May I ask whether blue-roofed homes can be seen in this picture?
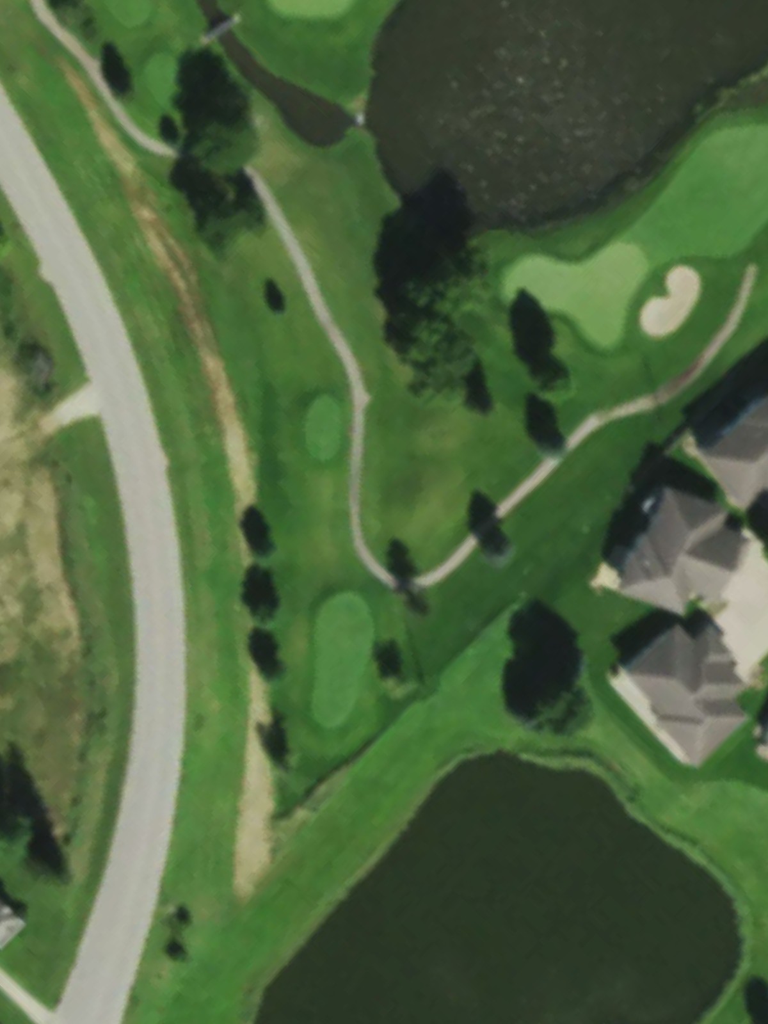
No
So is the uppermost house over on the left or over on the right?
right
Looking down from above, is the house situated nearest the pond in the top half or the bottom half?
bottom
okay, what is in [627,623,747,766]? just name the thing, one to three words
house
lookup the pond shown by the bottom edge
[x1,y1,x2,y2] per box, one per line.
[254,750,741,1024]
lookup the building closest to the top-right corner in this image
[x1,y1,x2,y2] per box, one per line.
[702,401,768,510]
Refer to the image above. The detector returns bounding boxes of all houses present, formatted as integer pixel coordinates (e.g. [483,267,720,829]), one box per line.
[0,897,25,948]
[627,623,747,766]
[702,401,768,510]
[620,488,746,614]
